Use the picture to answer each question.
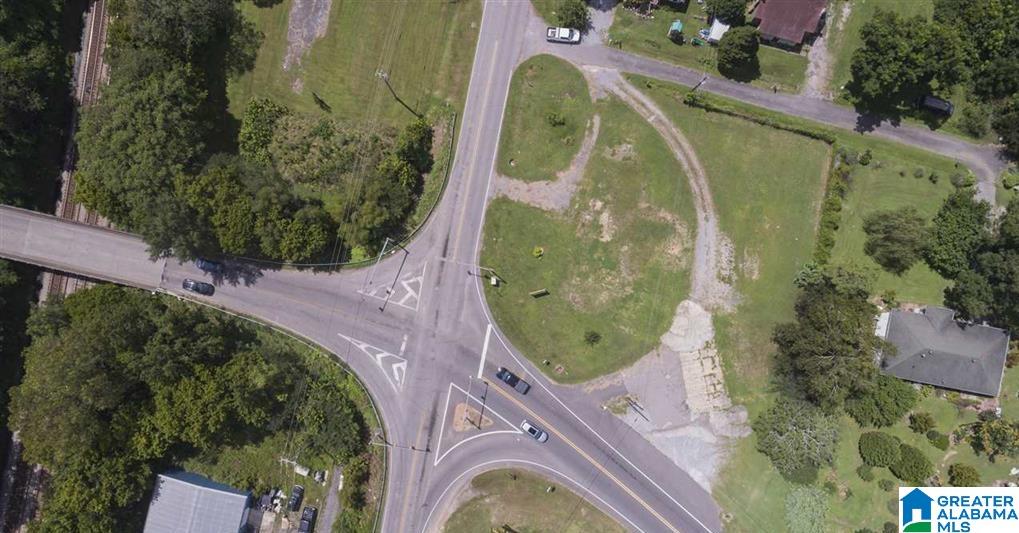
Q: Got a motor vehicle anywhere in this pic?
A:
Yes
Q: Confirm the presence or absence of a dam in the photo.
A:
No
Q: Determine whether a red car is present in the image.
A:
No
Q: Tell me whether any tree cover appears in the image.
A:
Yes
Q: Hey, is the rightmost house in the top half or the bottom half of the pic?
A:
bottom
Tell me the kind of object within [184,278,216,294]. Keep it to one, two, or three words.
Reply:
car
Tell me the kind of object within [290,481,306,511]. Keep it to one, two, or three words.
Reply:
car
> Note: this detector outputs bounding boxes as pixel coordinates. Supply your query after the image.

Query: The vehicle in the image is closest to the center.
[497,366,531,395]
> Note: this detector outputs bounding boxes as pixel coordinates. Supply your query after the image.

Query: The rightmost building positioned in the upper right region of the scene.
[757,0,828,57]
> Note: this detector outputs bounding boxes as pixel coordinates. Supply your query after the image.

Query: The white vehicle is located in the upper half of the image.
[545,29,582,45]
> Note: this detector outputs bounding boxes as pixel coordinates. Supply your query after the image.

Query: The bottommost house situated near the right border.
[877,306,1010,397]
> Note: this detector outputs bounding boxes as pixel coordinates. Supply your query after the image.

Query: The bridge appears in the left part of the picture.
[0,203,165,293]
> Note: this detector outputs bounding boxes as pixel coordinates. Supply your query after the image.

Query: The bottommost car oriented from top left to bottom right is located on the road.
[519,418,549,442]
